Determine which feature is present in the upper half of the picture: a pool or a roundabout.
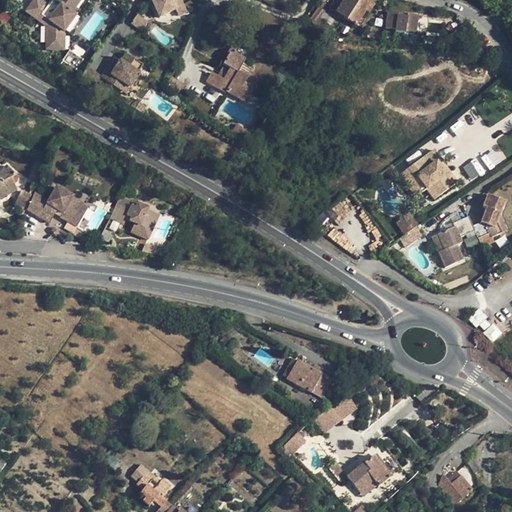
pool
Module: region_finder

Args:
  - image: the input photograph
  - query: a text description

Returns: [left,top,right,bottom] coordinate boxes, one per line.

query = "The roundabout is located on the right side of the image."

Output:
[374,296,472,396]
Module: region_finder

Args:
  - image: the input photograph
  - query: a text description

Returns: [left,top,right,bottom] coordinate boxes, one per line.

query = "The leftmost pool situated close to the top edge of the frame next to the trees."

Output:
[78,9,110,42]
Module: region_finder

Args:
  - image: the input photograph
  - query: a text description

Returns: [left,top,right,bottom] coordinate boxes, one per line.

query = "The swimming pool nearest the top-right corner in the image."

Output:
[378,181,402,217]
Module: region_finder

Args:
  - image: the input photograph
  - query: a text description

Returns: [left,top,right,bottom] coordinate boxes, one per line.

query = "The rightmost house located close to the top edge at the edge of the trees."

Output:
[386,11,420,30]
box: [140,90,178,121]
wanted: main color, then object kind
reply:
white swimming pool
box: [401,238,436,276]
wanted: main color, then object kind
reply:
white swimming pool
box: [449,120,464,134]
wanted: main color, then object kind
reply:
white vehicle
